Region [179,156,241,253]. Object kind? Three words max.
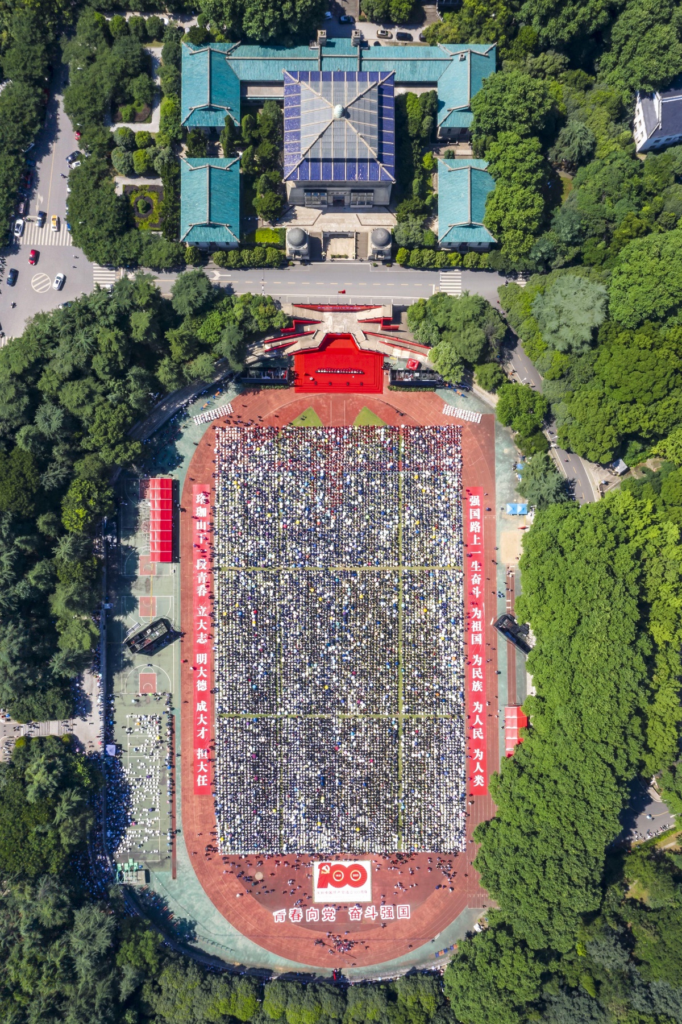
building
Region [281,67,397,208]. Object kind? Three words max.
building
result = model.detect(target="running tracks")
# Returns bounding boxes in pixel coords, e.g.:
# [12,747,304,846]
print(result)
[182,366,498,966]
